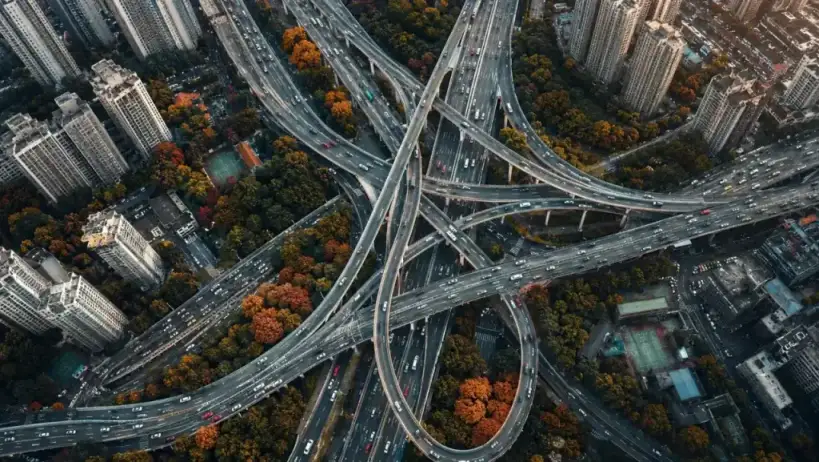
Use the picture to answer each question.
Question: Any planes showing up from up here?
No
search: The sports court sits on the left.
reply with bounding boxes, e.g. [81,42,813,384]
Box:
[206,148,247,184]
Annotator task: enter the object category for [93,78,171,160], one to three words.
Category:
building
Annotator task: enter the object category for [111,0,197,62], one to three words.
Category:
building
